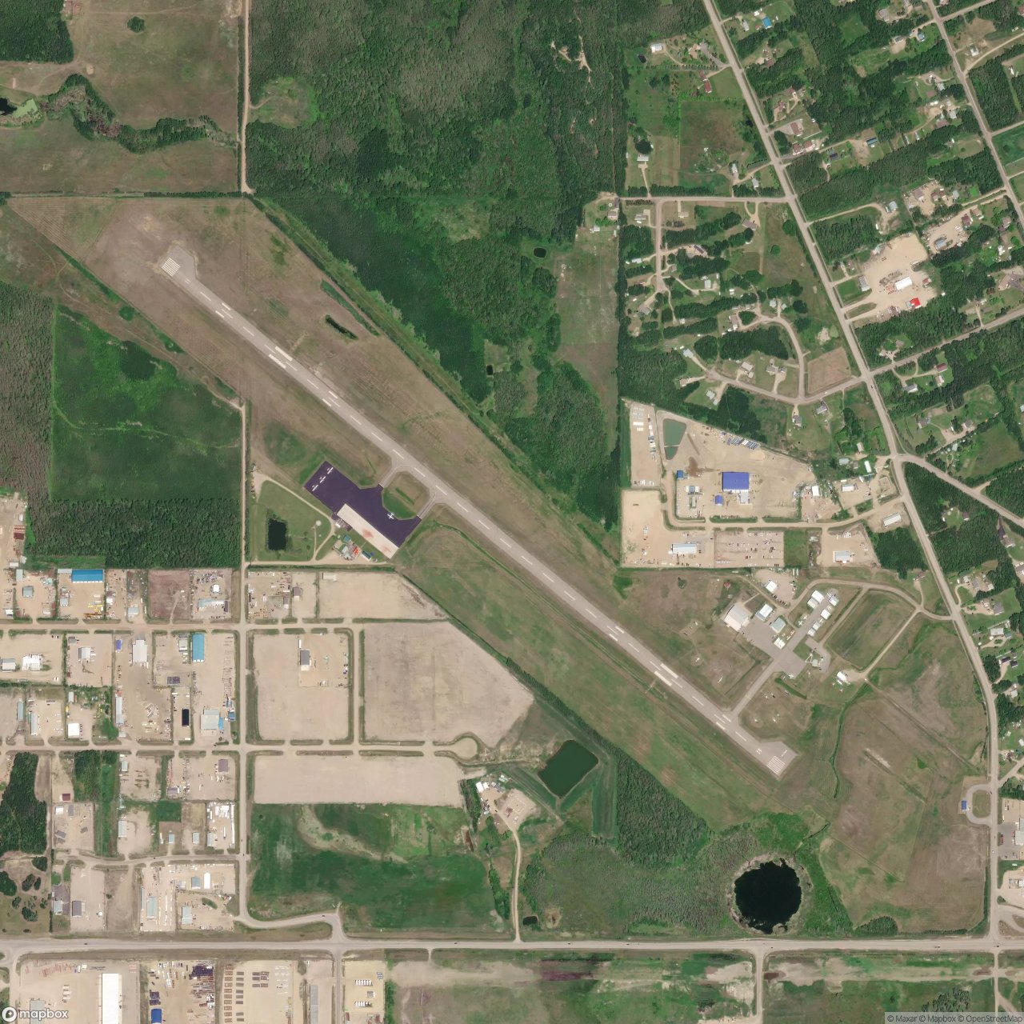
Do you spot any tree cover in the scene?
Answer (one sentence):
Yes, there's tree cover in this view.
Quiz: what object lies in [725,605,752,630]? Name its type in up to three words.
hangar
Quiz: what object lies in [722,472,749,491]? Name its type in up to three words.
building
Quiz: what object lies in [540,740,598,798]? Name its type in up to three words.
pond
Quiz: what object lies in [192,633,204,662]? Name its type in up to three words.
building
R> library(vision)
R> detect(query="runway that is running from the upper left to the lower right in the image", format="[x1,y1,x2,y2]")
[161,257,787,777]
